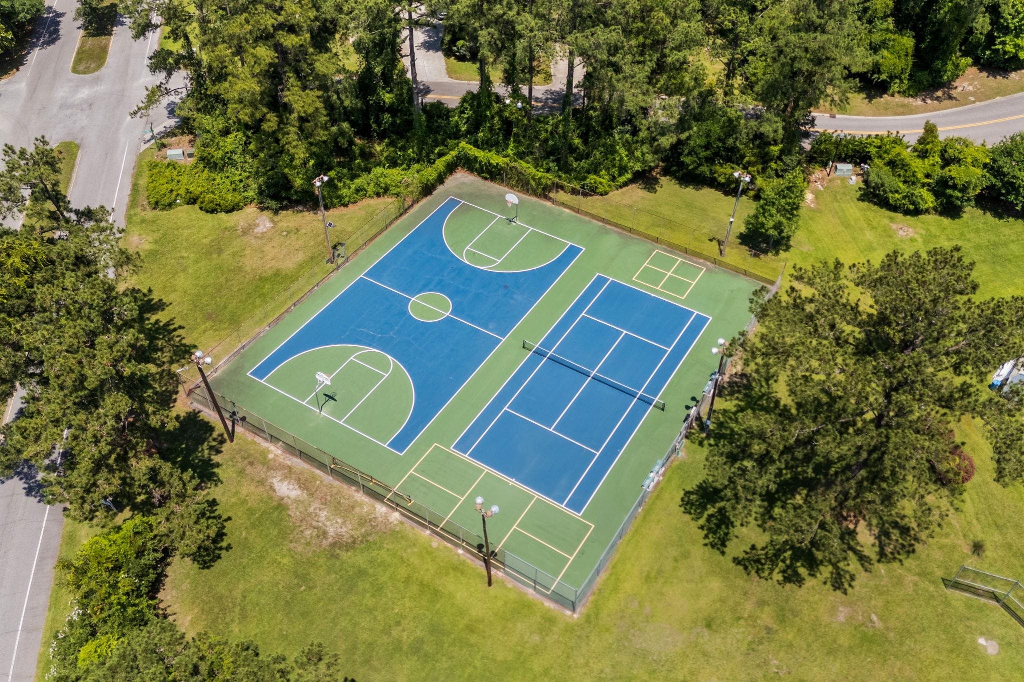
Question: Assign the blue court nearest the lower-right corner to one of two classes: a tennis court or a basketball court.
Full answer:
In the photo, the blue court nearest the lower-right corner shows up as a tennis court.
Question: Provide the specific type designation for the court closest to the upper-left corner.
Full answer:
The court closest to the upper-left corner appears to be a basketball court.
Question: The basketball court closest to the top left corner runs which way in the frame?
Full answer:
The basketball court closest to the top left corner runs on a diagonal in the image.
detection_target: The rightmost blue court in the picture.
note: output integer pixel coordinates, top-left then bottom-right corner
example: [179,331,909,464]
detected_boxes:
[451,273,710,515]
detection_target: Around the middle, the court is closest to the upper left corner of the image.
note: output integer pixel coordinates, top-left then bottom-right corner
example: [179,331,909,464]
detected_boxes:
[248,197,585,455]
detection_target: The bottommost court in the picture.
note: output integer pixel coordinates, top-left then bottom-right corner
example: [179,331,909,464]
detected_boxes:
[386,443,594,592]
